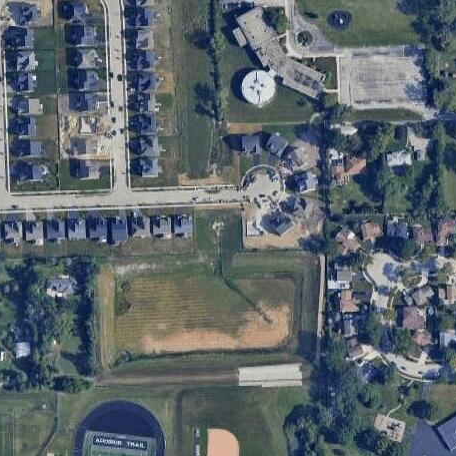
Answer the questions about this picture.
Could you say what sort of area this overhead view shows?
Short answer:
residential area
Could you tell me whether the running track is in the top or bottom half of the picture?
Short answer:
bottom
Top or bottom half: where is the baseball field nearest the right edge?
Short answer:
bottom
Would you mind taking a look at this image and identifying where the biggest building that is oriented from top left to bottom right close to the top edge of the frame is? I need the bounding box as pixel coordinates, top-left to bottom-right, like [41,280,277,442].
[233,7,325,98]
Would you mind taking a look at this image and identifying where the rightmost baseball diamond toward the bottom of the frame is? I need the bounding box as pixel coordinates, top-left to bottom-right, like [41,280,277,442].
[198,417,257,456]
